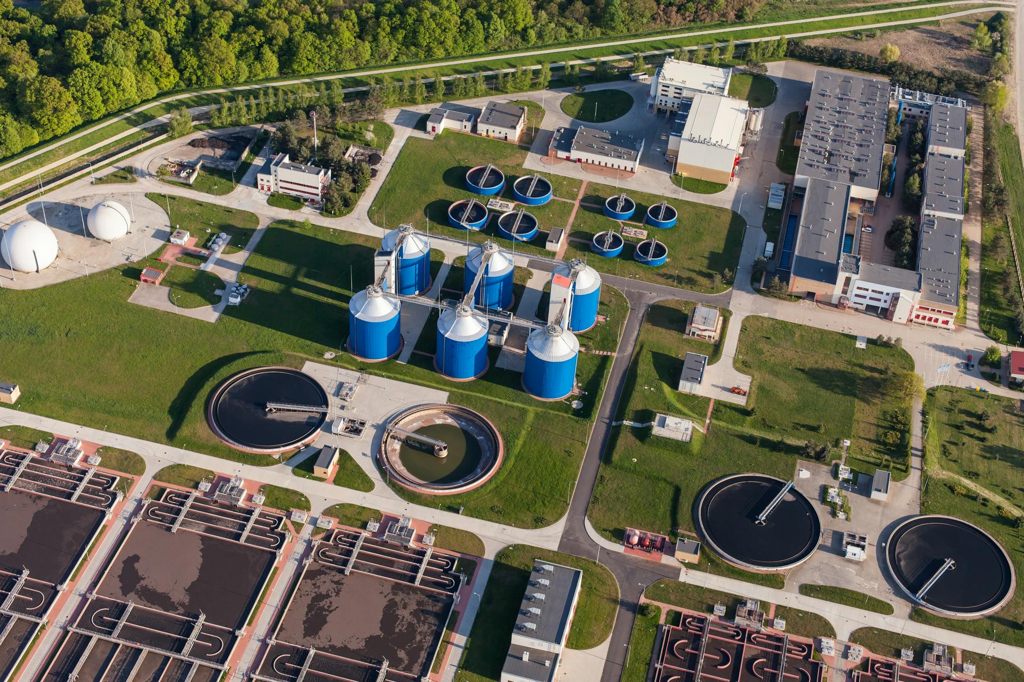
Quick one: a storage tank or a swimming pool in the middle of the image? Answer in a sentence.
It is a storage tank that can be seen in the middle of the image.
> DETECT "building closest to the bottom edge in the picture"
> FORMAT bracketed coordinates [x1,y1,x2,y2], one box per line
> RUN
[501,559,583,682]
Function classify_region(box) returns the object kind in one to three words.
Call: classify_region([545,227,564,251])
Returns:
shed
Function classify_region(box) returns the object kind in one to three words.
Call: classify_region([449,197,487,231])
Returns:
storage tank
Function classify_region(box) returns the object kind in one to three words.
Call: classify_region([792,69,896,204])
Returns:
building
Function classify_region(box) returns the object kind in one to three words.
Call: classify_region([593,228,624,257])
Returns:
storage tank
